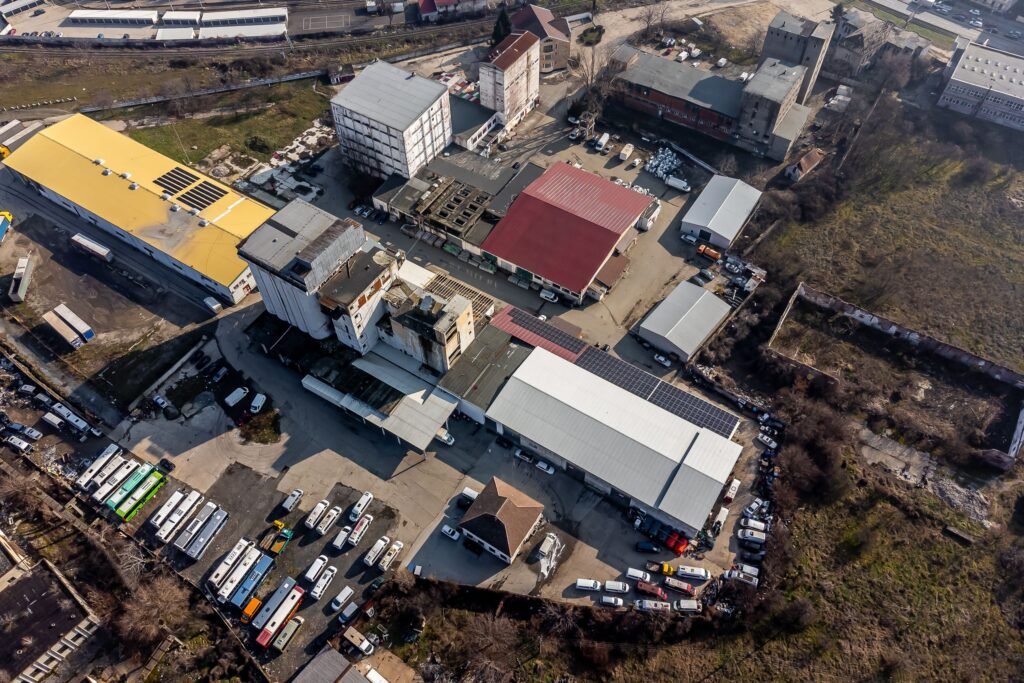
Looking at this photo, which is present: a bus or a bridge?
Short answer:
bus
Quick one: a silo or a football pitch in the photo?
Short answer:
silo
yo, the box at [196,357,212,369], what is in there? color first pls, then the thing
black vehicle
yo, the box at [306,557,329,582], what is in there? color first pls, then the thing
white vehicle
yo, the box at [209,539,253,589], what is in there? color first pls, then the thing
white bus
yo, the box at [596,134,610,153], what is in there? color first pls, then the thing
white vehicle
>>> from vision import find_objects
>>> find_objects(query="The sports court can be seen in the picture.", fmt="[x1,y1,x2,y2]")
[290,3,424,34]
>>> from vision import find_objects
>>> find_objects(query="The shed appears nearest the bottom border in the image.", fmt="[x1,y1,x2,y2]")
[296,645,372,683]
